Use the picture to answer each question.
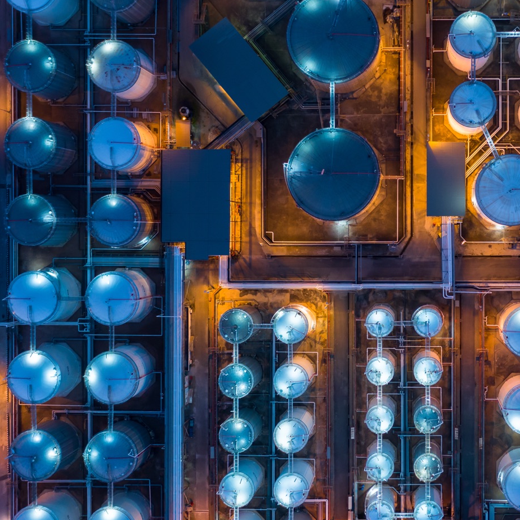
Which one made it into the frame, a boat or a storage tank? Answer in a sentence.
Looking from above, you can make out a storage tank.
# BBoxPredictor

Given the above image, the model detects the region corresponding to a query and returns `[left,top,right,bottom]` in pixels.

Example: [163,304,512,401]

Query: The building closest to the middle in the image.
[162,150,234,259]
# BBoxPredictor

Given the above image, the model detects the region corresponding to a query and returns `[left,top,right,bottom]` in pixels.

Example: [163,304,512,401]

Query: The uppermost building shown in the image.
[189,18,290,124]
